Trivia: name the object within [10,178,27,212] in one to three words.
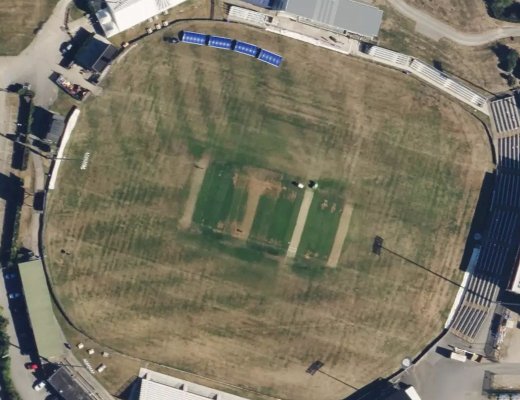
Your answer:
house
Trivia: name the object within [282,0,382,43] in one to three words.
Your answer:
building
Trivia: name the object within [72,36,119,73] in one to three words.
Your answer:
building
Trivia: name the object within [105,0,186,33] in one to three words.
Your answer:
tent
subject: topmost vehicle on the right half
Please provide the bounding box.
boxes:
[447,351,470,363]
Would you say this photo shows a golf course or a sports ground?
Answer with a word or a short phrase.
sports ground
